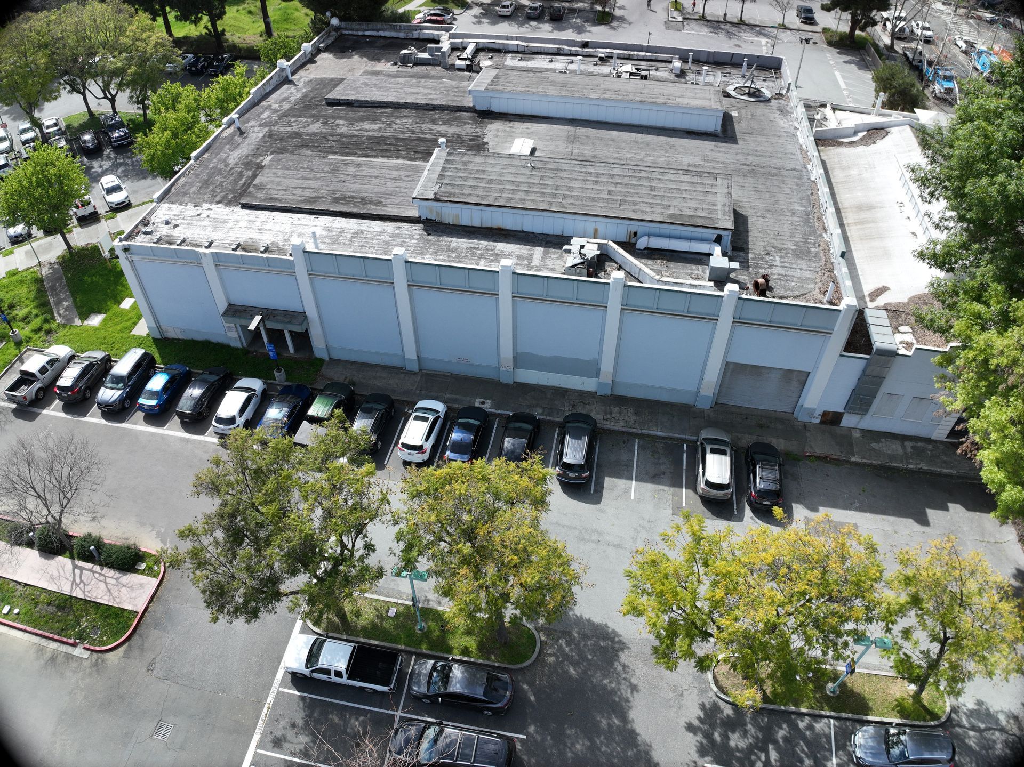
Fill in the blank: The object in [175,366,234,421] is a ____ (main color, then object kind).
black car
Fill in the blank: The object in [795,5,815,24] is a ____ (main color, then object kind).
gray vehicle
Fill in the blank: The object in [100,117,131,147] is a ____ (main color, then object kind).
black truck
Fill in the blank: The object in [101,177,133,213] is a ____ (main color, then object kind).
white car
